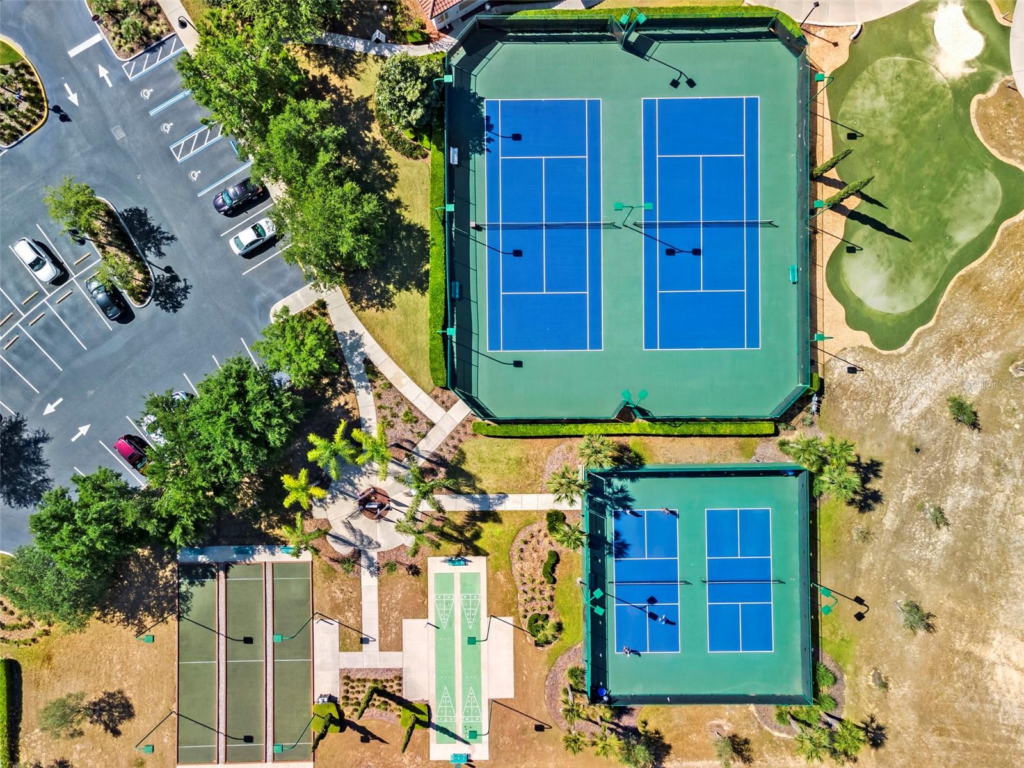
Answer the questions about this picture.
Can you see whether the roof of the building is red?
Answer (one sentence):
Yes, the roof of the building is red.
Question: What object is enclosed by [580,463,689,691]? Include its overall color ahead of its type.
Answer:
blue sports court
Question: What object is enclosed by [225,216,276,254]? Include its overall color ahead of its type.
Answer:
white car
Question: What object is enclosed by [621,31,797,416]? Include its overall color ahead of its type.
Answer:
green tennis court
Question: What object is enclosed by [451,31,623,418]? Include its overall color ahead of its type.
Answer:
blue tennis court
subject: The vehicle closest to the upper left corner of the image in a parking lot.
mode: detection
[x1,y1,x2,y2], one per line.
[8,235,55,283]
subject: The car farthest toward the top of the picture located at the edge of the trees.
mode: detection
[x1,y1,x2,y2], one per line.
[211,174,262,212]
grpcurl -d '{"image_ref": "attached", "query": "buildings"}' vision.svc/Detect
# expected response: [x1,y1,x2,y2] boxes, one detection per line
[418,0,492,30]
